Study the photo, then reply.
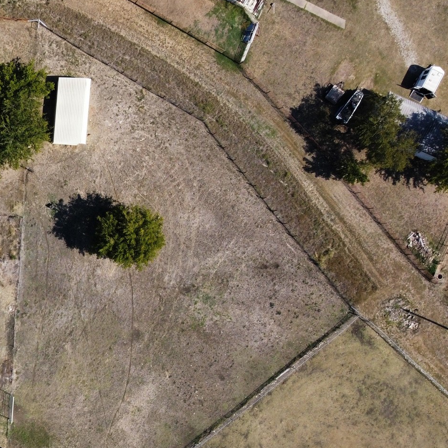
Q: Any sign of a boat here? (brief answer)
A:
Yes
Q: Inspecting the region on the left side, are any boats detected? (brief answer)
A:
No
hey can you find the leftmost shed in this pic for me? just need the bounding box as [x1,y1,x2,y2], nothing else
[51,77,91,148]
